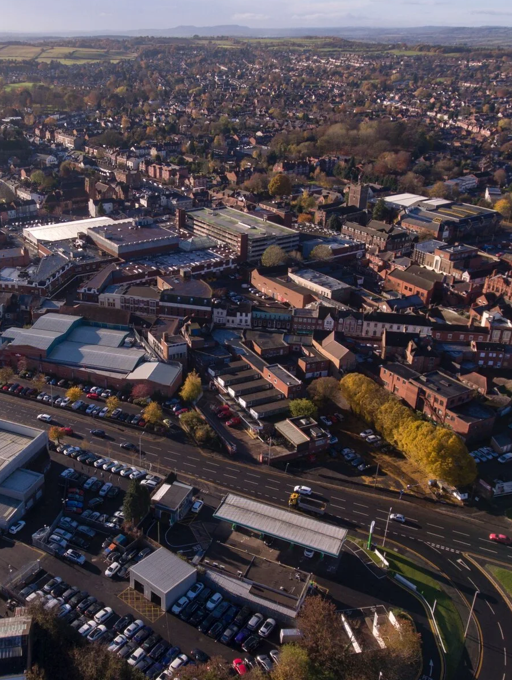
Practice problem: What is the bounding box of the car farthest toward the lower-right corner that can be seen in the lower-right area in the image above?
[487,531,512,546]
